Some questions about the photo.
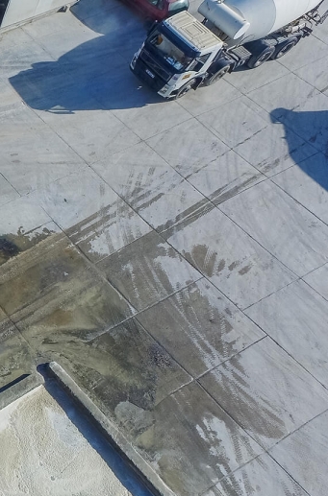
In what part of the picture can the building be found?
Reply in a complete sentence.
The building sits in the top left section of the image.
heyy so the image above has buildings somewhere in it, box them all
[0,0,61,29]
